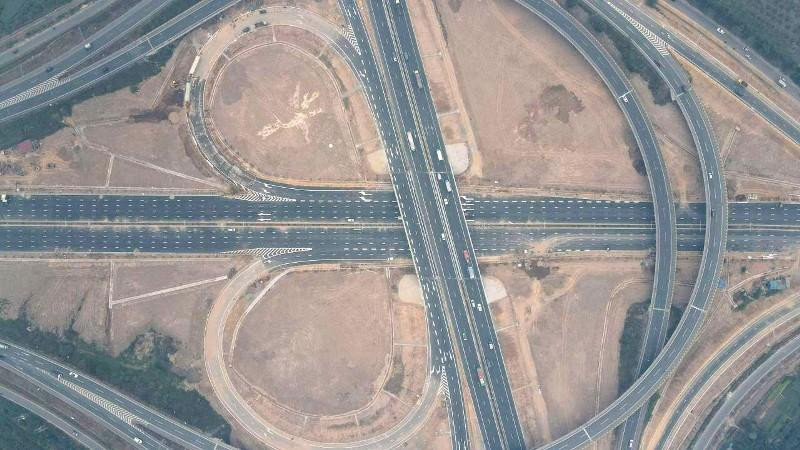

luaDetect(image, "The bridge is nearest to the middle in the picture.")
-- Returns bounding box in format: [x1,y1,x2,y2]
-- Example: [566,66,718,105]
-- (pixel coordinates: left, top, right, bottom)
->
[387,170,483,280]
